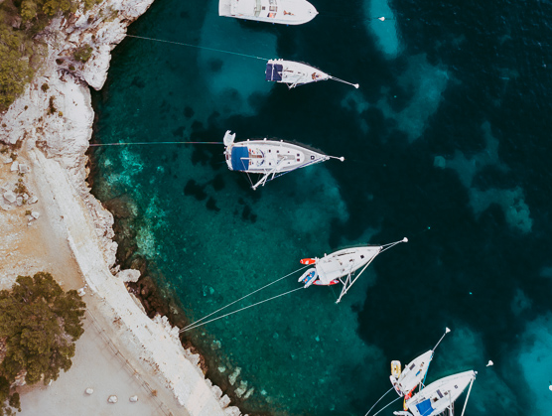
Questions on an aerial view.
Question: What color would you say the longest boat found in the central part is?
white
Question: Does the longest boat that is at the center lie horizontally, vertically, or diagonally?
horizontally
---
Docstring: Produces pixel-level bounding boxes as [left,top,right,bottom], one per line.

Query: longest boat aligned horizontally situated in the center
[224,139,331,192]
